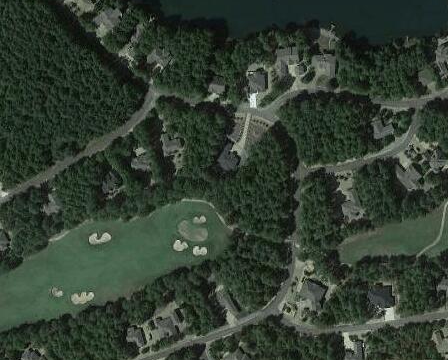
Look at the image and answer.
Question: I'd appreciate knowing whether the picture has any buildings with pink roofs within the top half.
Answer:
No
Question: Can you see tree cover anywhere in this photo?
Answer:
Yes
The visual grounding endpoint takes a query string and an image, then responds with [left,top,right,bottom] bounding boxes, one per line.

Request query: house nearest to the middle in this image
[216,143,242,172]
